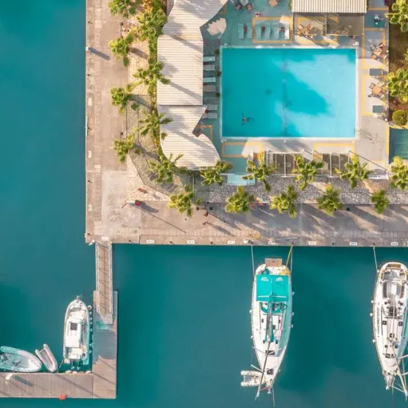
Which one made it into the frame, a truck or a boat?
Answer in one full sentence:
This aerial view contains a boat.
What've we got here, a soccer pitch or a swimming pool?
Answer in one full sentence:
It is a swimming pool that can be seen here.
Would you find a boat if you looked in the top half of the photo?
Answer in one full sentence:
No, in the top half of the photo there is no boat.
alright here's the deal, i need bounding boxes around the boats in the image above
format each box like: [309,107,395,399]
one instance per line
[57,297,93,372]
[0,347,41,373]
[249,243,293,406]
[241,371,264,386]
[370,248,408,398]
[37,345,56,372]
